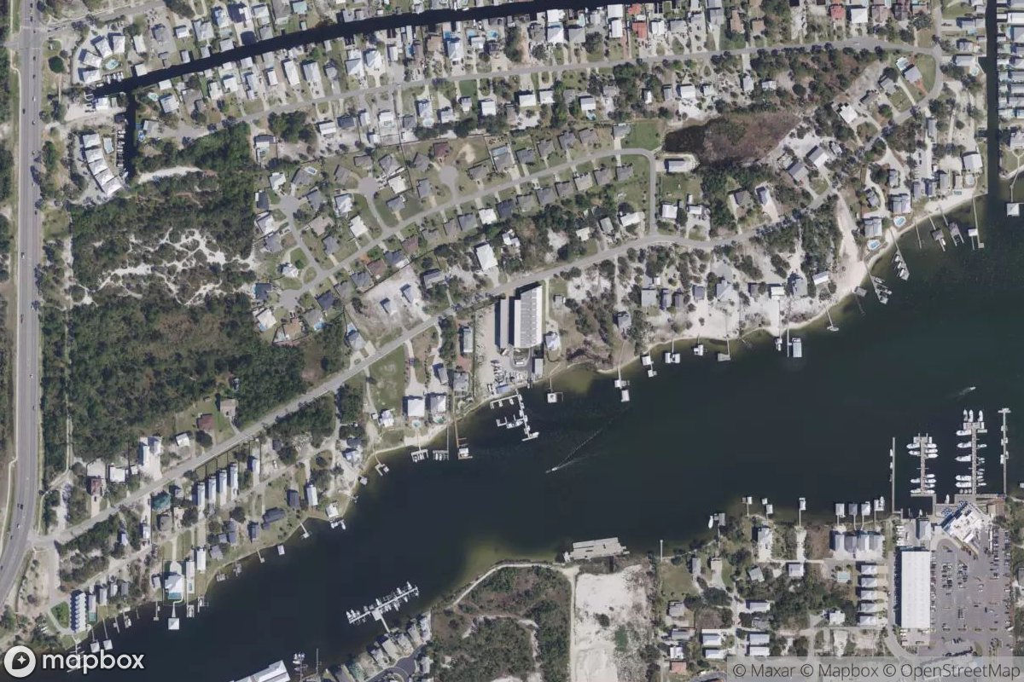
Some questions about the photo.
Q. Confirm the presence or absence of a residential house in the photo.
Yes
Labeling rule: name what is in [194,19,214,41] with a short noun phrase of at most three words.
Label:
house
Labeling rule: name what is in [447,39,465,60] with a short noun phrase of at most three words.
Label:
house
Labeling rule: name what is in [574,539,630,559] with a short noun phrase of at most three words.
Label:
pier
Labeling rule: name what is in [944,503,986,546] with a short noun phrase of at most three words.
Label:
building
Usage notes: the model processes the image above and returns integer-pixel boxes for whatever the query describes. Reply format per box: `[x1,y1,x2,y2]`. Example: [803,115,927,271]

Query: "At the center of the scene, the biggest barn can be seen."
[514,285,542,347]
